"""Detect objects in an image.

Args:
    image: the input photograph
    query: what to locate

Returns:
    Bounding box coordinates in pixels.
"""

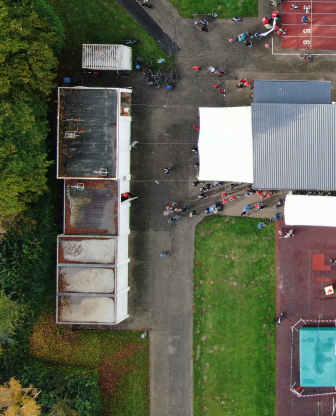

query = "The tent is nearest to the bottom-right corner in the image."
[283,194,336,226]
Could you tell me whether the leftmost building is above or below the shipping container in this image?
below it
